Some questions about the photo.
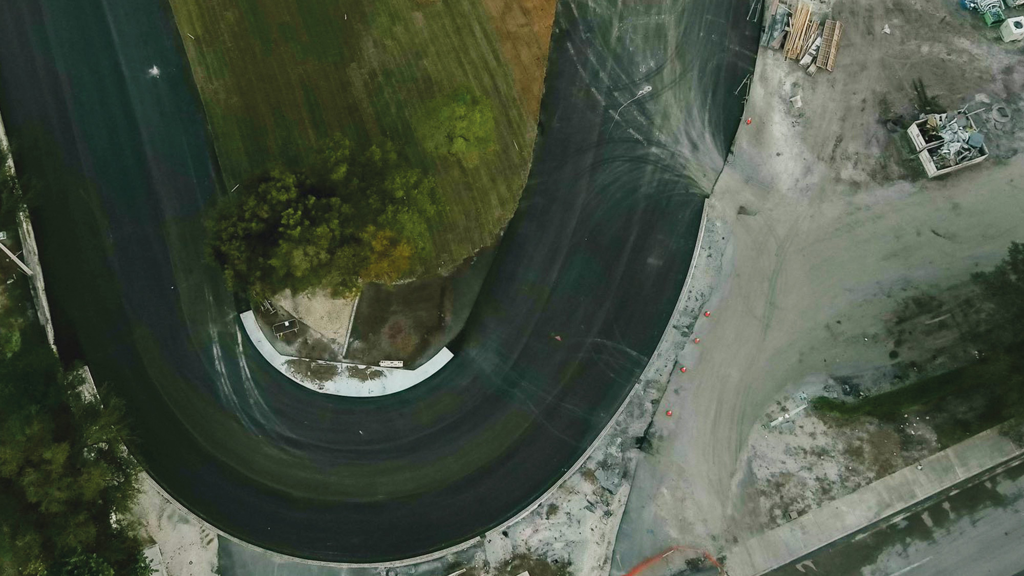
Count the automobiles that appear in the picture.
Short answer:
0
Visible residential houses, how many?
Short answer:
zero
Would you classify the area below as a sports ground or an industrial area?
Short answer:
sports ground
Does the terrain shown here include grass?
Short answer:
Yes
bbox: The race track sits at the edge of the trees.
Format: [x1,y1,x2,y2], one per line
[0,0,763,562]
